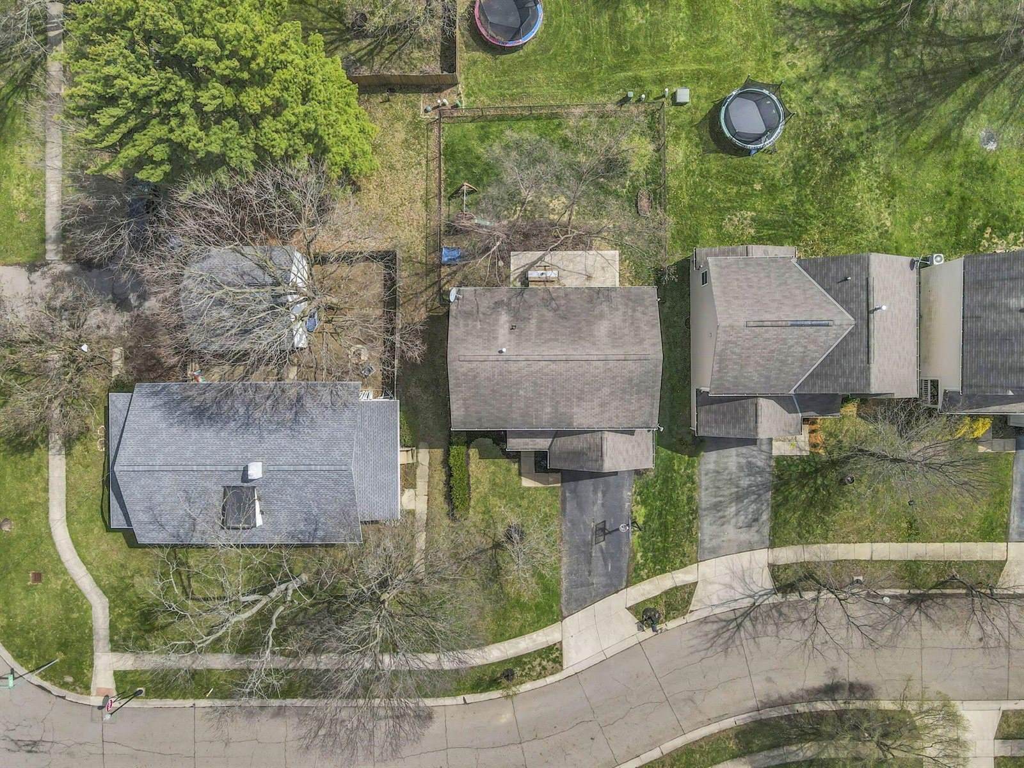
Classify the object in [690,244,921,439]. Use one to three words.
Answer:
house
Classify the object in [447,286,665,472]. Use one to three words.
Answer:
house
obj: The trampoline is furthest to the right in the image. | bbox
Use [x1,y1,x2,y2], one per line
[716,75,796,160]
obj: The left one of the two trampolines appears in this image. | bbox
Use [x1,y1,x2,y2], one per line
[472,0,546,53]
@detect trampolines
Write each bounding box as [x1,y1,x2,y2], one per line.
[472,0,546,53]
[716,75,796,160]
